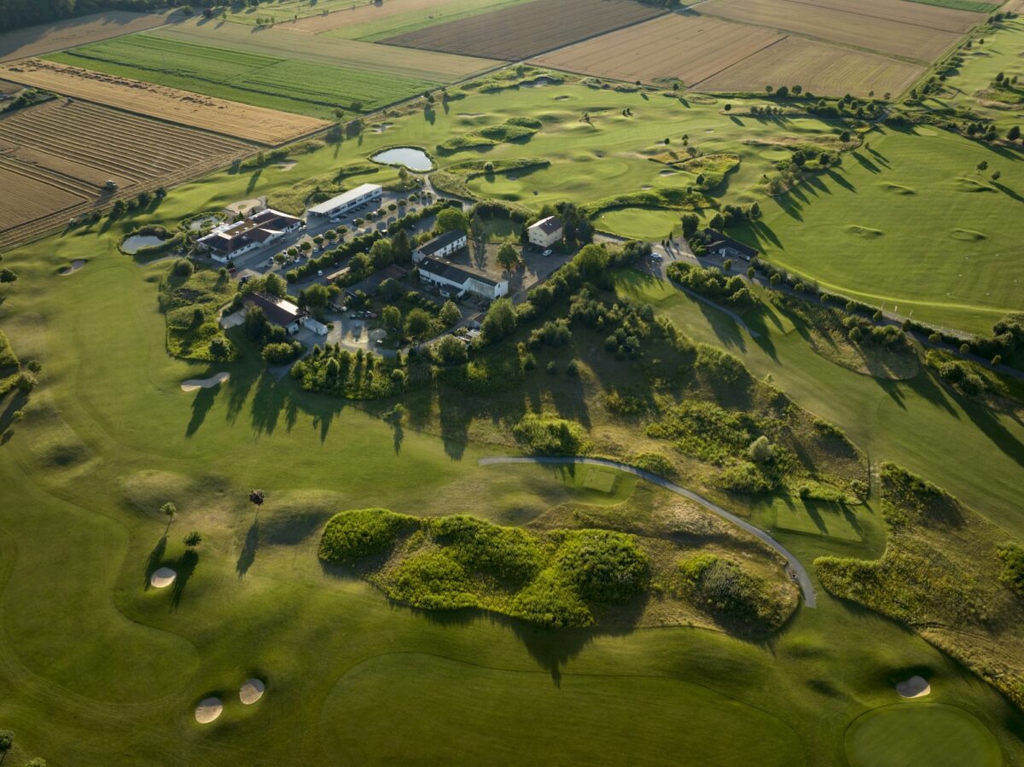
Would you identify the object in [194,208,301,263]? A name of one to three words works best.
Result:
building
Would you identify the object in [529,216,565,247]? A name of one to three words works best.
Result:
house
